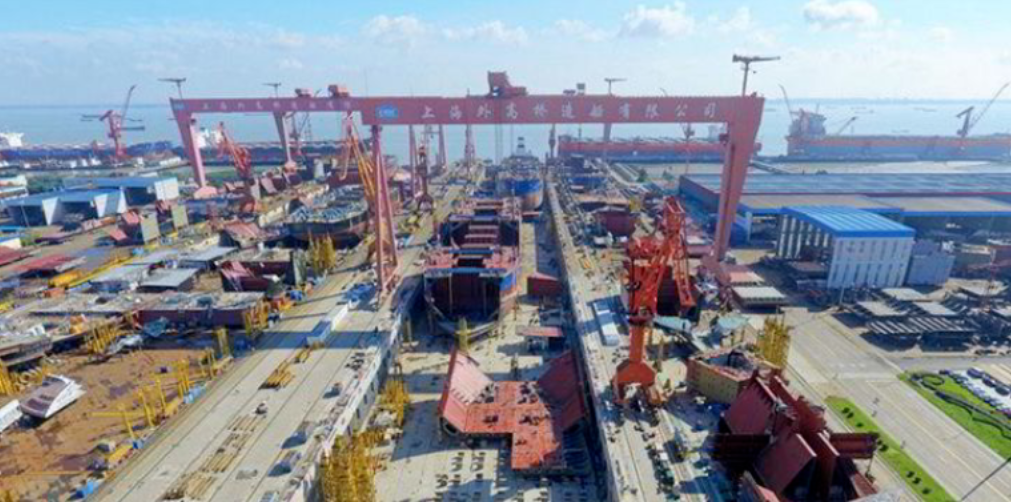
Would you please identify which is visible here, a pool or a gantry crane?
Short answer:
gantry crane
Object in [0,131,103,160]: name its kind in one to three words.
ship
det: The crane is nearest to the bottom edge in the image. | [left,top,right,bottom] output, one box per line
[606,194,700,406]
